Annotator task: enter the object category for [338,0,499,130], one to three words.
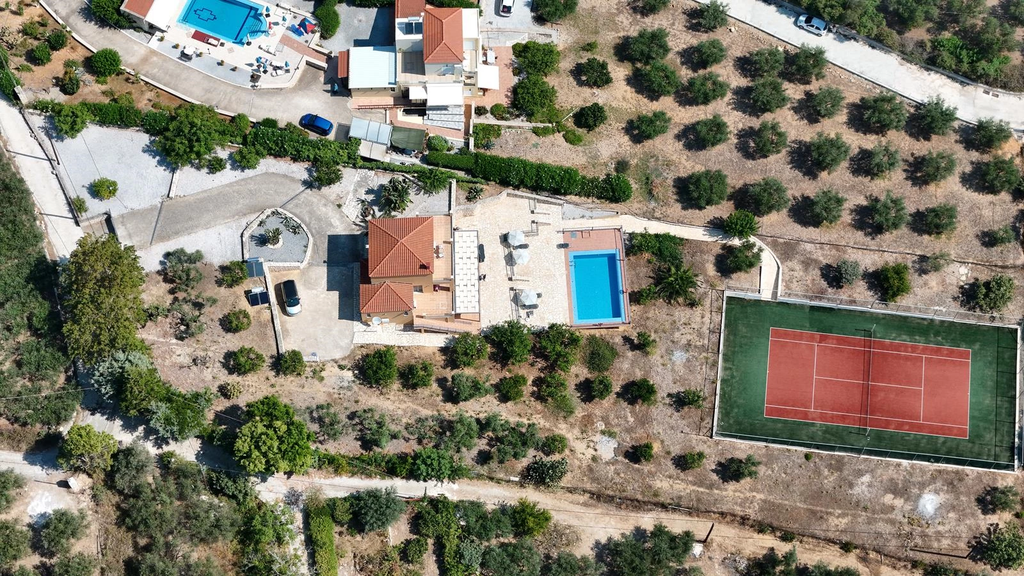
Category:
house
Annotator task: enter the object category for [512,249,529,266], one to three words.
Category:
umbrella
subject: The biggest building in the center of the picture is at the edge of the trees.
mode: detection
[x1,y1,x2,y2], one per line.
[359,215,481,337]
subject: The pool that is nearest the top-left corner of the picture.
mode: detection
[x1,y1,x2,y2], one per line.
[150,0,329,87]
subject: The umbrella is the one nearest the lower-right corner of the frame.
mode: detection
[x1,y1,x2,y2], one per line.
[519,288,537,306]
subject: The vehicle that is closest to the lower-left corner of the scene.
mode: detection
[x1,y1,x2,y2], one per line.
[281,280,303,316]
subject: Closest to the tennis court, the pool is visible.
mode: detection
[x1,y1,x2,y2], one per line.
[563,228,631,333]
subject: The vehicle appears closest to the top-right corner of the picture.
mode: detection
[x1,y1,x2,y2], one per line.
[796,15,829,36]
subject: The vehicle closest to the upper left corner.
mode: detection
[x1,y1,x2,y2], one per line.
[300,114,334,136]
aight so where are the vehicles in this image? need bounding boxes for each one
[281,280,303,316]
[796,15,829,36]
[500,0,515,17]
[300,114,334,136]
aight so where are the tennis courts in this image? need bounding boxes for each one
[712,291,1020,472]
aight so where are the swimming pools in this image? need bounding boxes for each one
[563,228,631,333]
[150,0,329,87]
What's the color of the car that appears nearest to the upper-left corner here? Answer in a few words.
blue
